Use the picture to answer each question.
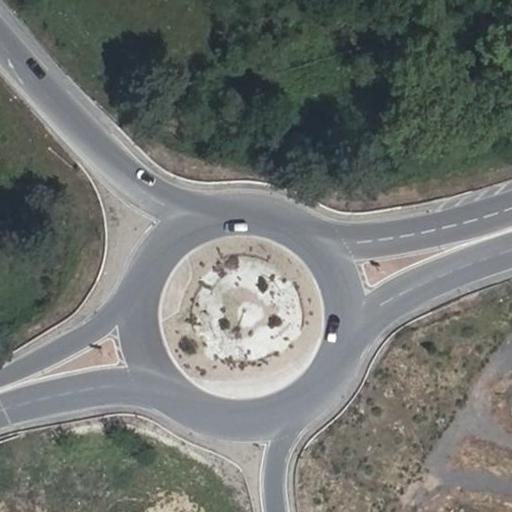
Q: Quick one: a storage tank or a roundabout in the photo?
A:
roundabout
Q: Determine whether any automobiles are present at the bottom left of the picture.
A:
No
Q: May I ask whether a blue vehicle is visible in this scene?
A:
No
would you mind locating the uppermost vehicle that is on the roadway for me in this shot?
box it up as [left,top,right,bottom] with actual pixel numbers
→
[26,58,46,79]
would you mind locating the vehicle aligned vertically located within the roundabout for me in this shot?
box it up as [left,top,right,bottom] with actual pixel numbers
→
[328,314,340,342]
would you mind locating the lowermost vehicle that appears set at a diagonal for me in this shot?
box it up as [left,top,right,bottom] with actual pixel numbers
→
[135,168,157,186]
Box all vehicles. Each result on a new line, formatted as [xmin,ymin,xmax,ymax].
[26,58,46,79]
[135,168,157,186]
[226,222,248,233]
[328,314,340,342]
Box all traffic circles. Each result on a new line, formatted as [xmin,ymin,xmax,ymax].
[118,194,364,440]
